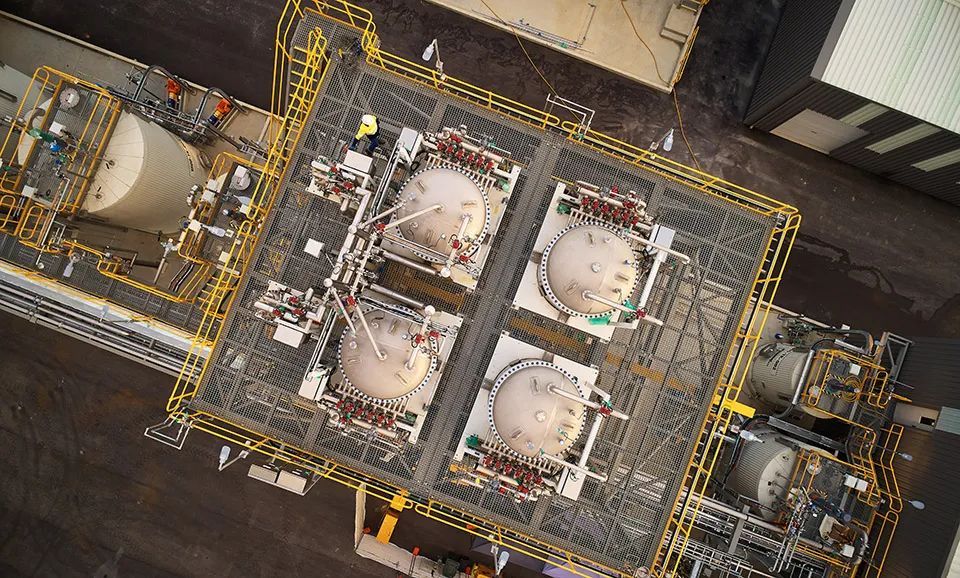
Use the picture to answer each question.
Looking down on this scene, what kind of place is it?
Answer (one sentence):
It's an industrial area.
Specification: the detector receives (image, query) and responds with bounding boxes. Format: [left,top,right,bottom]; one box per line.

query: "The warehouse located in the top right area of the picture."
[742,0,960,205]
